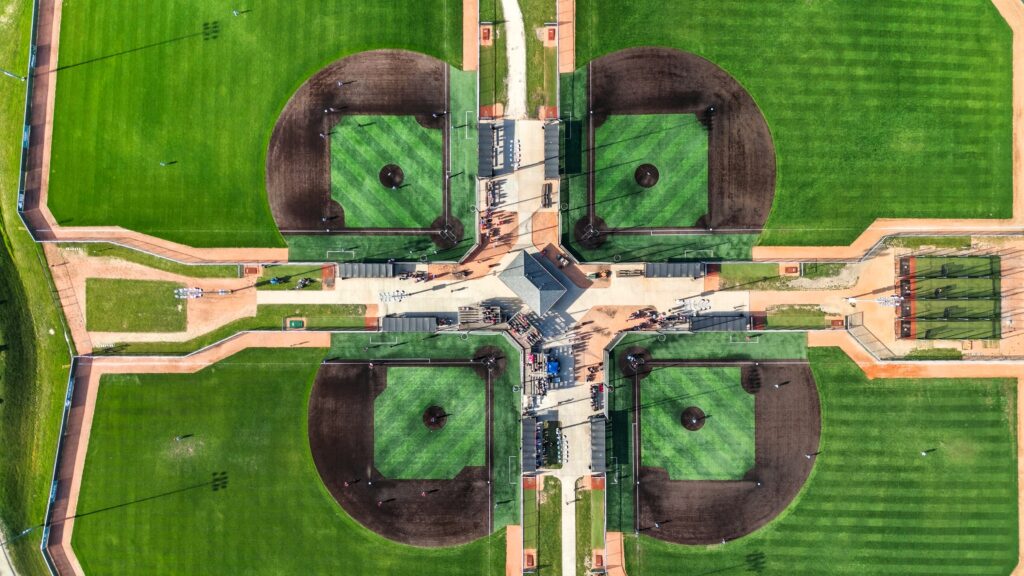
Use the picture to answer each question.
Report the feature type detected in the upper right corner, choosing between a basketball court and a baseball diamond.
baseball diamond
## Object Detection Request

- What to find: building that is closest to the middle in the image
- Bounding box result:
[497,248,567,318]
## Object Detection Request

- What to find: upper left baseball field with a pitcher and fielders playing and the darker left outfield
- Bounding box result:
[24,0,478,263]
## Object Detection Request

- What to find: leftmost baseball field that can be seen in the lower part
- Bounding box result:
[47,332,522,576]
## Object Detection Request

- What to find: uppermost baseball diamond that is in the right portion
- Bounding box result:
[559,0,1024,262]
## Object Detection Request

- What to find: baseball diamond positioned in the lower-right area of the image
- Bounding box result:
[606,331,1024,576]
